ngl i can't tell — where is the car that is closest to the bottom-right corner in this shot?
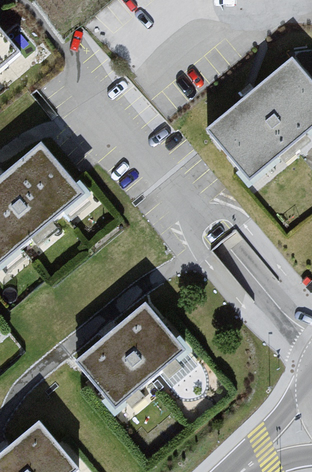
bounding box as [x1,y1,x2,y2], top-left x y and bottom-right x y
[295,310,312,325]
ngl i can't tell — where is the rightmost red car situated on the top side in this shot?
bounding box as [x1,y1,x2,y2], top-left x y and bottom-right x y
[188,68,204,88]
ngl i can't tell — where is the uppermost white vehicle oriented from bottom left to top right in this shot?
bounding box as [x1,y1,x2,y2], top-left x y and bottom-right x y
[108,80,128,98]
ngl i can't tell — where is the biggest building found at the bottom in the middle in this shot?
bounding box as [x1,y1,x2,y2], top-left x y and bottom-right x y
[76,302,199,416]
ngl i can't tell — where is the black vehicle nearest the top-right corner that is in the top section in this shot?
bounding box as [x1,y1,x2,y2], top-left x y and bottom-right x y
[176,73,195,97]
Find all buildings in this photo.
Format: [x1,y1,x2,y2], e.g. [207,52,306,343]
[76,302,199,416]
[0,142,93,272]
[0,420,80,472]
[0,28,22,70]
[206,56,312,188]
